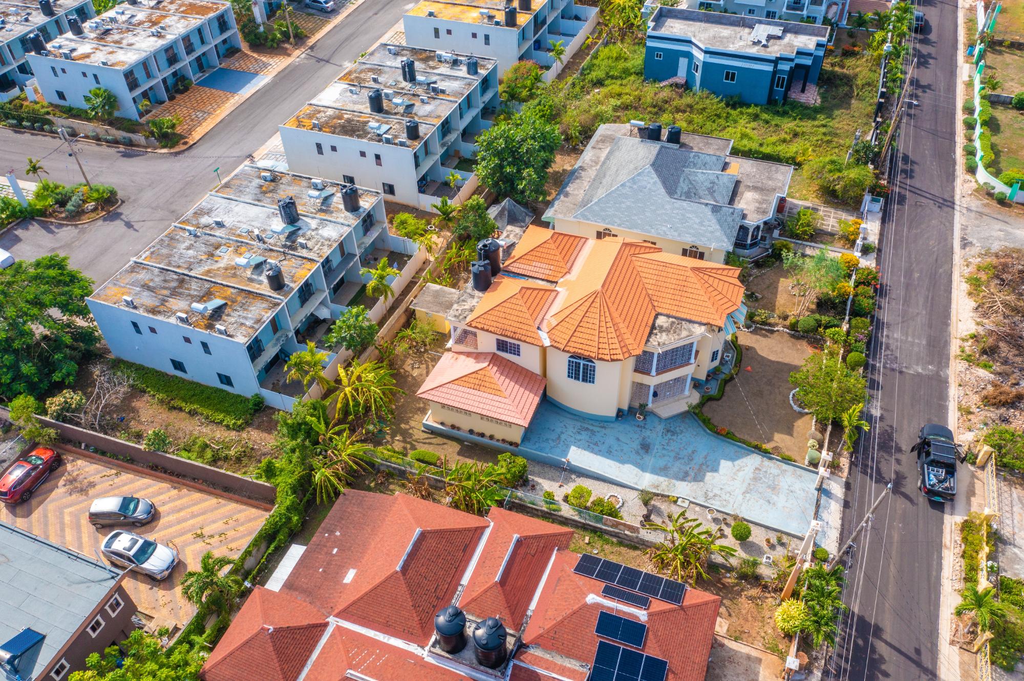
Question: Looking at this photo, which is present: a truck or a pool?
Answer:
truck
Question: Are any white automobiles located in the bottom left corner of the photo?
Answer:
Yes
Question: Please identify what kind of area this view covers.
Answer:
residential area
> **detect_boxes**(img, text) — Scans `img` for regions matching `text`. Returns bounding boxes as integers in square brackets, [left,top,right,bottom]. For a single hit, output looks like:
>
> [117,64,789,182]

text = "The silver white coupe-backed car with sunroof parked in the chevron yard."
[96,523,179,580]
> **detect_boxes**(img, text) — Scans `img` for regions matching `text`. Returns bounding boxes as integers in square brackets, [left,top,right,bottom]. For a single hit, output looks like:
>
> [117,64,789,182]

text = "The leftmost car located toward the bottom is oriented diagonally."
[0,439,65,503]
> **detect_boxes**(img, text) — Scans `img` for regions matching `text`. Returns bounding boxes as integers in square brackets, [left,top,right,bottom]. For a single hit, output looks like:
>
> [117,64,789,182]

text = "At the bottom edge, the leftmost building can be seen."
[0,528,141,681]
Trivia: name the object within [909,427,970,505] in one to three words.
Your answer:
truck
